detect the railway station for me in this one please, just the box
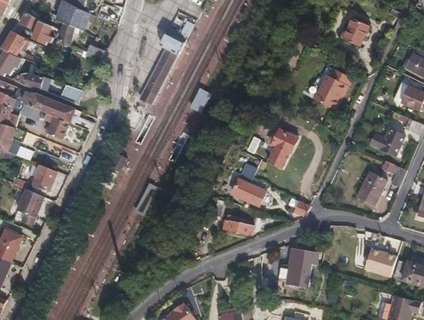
[48,0,249,320]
